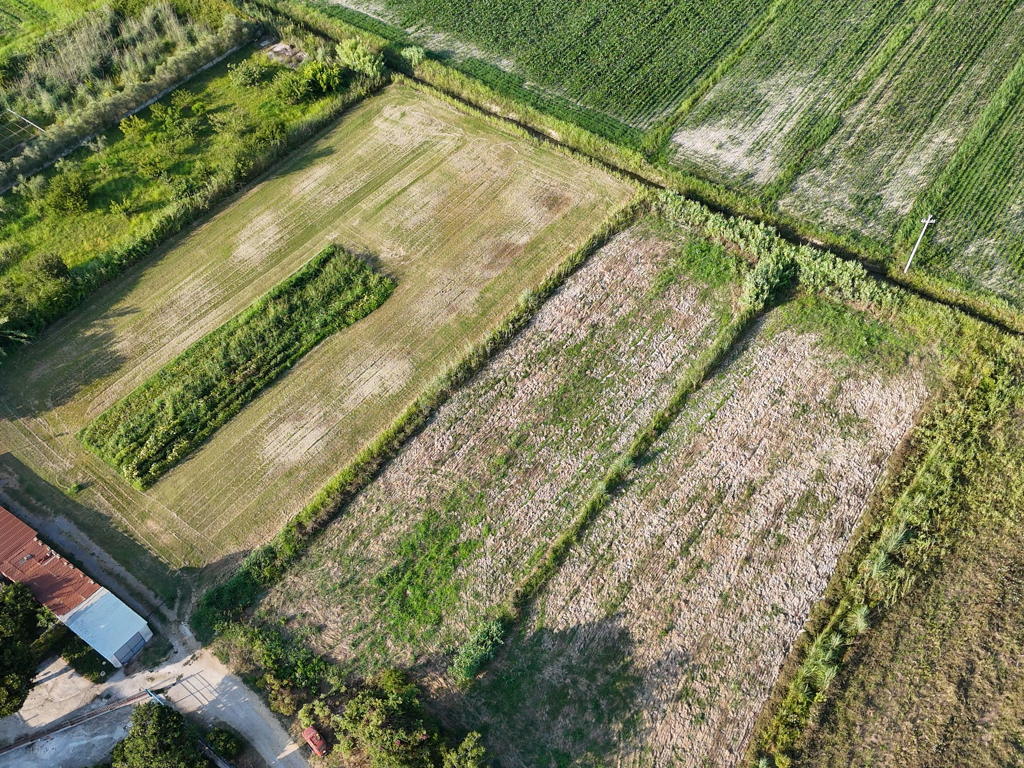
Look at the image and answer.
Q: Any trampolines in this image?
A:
No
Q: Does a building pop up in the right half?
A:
No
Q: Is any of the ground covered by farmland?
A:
Yes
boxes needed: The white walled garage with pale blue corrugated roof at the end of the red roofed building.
[70,589,156,669]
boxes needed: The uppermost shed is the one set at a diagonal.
[0,492,107,621]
